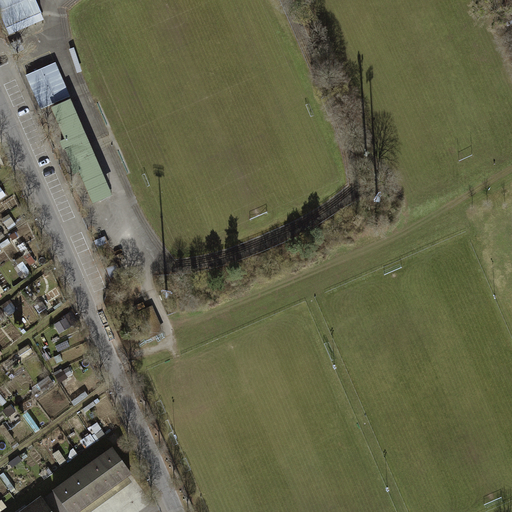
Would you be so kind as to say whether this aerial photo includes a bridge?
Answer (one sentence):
No, no bridge is visible in the scene.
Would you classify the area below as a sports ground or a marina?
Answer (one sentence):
What you see here is a sports ground.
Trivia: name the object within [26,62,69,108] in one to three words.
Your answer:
building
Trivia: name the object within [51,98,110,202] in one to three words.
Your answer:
building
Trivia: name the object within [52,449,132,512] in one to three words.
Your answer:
barn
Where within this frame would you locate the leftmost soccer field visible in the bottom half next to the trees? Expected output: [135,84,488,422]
[150,302,394,512]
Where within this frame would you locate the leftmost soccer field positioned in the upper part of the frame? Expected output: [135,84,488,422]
[68,0,349,260]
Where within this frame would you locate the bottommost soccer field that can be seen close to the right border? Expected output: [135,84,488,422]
[317,232,512,512]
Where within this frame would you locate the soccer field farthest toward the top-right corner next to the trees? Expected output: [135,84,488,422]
[326,0,512,208]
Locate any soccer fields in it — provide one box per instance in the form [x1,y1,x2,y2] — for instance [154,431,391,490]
[150,302,394,512]
[68,0,349,260]
[317,232,512,512]
[326,0,512,208]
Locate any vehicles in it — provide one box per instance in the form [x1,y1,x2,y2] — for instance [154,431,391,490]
[38,158,50,166]
[43,168,54,175]
[18,108,29,116]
